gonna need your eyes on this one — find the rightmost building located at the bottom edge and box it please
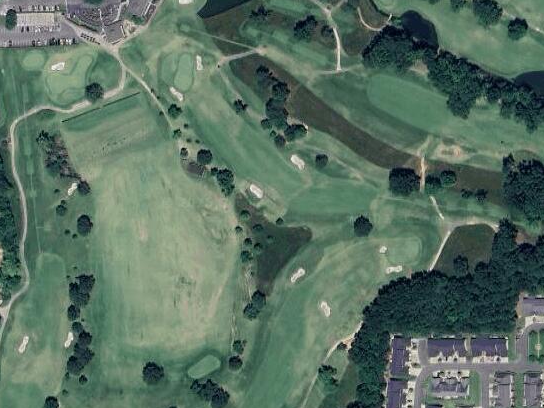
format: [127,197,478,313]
[523,374,543,408]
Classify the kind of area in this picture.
golf course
